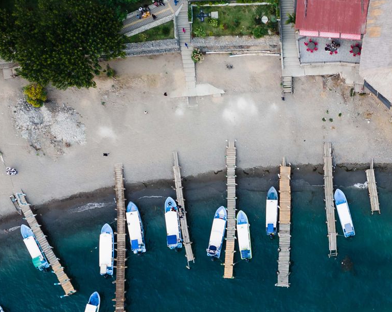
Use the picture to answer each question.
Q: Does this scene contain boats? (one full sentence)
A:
Yes, the frame does contain a boat.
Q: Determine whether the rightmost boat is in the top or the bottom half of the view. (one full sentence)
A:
The rightmost boat sits in the bottom half of the picture.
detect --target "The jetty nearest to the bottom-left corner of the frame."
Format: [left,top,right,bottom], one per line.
[15,193,75,298]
